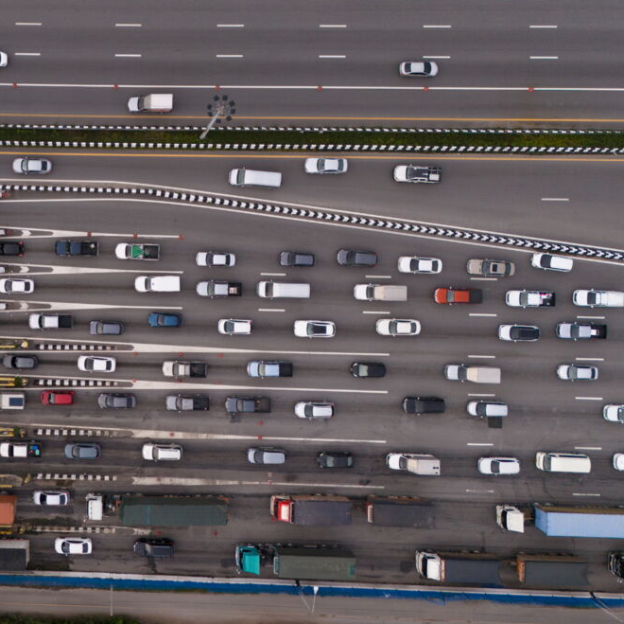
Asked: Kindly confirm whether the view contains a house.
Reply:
No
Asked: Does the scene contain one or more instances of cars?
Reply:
Yes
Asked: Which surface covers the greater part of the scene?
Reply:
paved ground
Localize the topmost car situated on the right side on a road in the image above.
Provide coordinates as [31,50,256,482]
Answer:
[399,60,437,79]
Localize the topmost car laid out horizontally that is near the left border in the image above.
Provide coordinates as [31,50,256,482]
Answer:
[12,156,52,175]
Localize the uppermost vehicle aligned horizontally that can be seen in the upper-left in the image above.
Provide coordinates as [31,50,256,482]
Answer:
[127,93,174,112]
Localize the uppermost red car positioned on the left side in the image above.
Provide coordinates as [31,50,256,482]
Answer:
[41,389,76,407]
